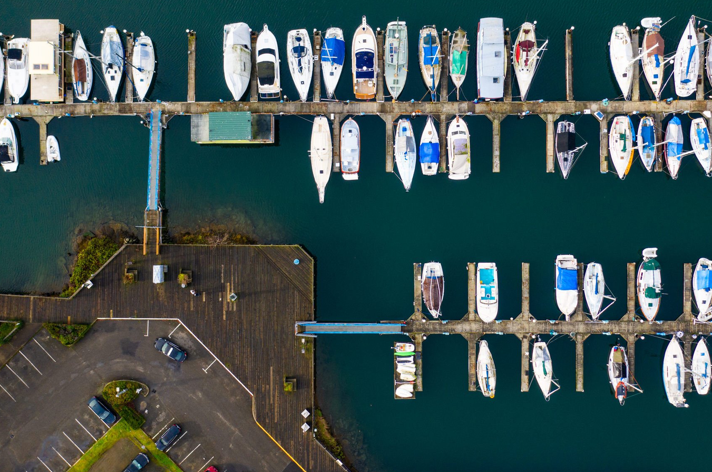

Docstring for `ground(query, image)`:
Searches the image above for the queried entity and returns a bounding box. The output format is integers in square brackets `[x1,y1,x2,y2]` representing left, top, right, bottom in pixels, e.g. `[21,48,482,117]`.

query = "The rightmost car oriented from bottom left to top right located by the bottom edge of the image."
[154,422,185,452]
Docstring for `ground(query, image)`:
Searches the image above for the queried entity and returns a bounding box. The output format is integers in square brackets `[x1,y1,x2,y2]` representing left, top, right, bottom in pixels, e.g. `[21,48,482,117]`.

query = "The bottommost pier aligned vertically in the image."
[394,343,415,400]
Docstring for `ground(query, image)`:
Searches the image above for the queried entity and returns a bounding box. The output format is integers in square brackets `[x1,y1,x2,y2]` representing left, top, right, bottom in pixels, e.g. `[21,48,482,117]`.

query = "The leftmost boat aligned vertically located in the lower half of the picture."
[422,259,445,319]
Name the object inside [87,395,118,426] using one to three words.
car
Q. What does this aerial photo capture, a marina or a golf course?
marina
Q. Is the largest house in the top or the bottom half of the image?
top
